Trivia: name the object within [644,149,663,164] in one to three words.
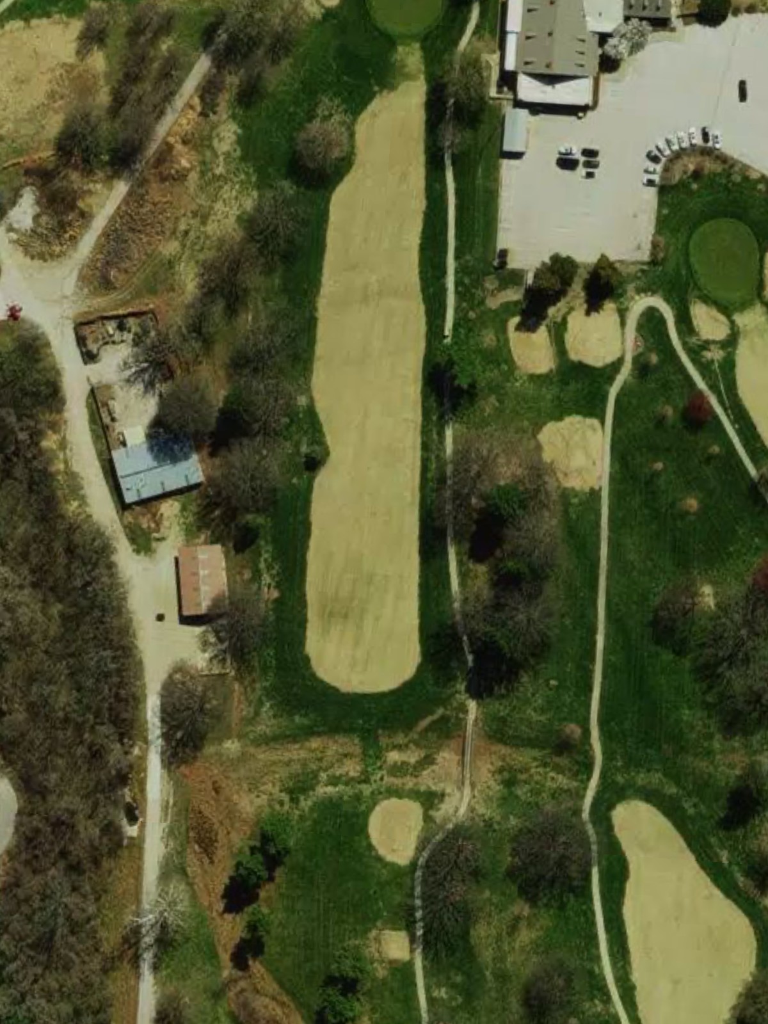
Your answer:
car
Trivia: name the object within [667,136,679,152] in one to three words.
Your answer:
vehicle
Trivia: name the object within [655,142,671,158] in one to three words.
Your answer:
car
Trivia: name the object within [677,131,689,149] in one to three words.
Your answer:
vehicle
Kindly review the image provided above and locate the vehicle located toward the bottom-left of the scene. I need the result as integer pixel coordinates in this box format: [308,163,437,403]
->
[126,803,138,824]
